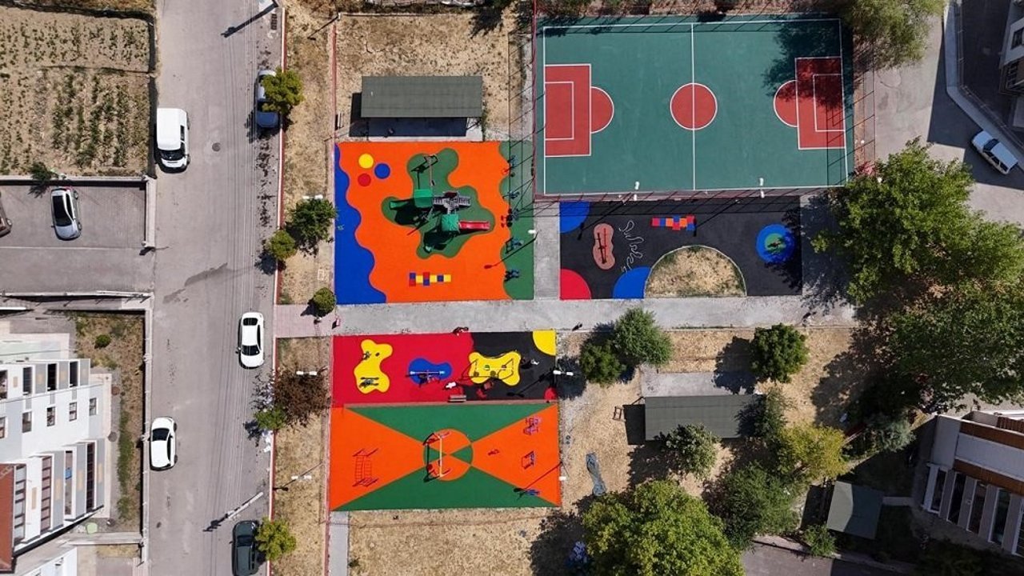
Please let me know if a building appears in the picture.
Yes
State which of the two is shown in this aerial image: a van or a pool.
van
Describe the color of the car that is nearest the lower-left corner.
white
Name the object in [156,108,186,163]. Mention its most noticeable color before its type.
white van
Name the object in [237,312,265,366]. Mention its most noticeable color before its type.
white car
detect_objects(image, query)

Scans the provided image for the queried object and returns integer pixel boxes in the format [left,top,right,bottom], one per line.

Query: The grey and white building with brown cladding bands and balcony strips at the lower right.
[918,413,1024,558]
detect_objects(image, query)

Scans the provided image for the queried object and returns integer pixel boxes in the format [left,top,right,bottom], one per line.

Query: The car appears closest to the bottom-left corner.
[149,415,179,466]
